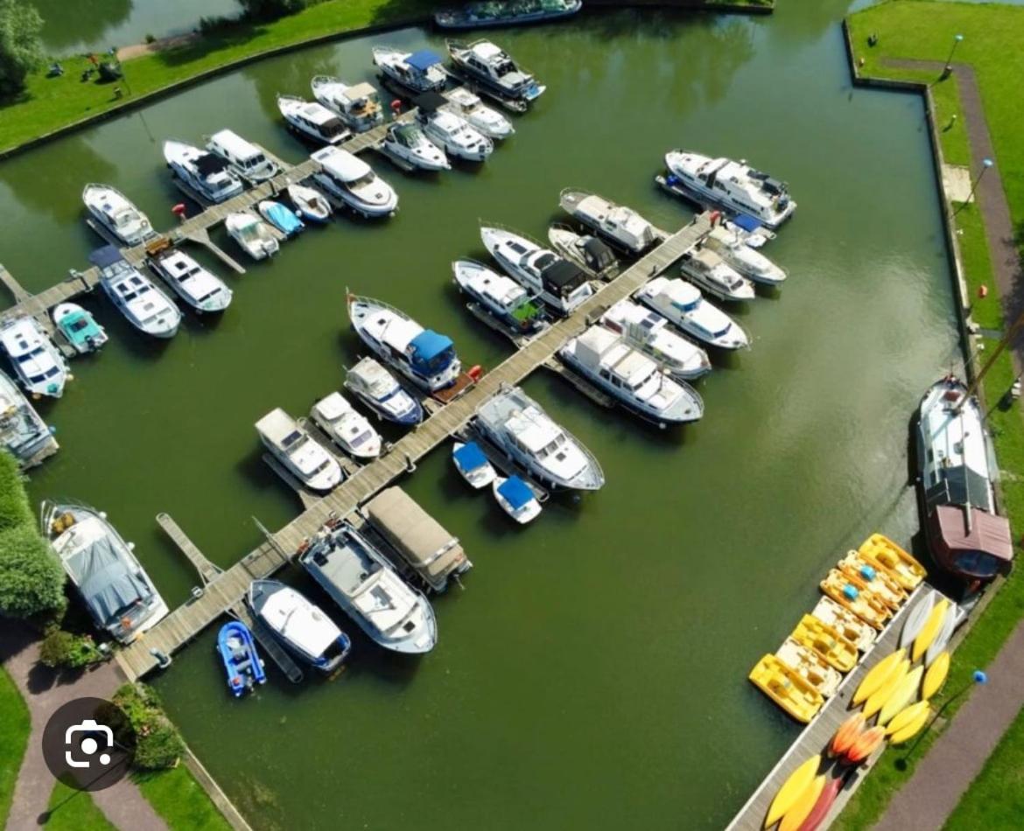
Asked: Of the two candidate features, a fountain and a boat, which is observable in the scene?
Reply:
boat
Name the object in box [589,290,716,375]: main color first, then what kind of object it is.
white boat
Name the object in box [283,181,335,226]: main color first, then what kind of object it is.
white boat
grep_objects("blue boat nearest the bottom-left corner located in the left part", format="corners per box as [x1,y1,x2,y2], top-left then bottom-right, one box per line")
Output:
[204,600,269,696]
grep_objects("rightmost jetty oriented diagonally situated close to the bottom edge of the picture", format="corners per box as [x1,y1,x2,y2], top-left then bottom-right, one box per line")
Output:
[722,582,967,831]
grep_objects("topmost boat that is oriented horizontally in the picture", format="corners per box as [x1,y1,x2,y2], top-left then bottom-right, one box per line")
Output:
[437,0,584,28]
